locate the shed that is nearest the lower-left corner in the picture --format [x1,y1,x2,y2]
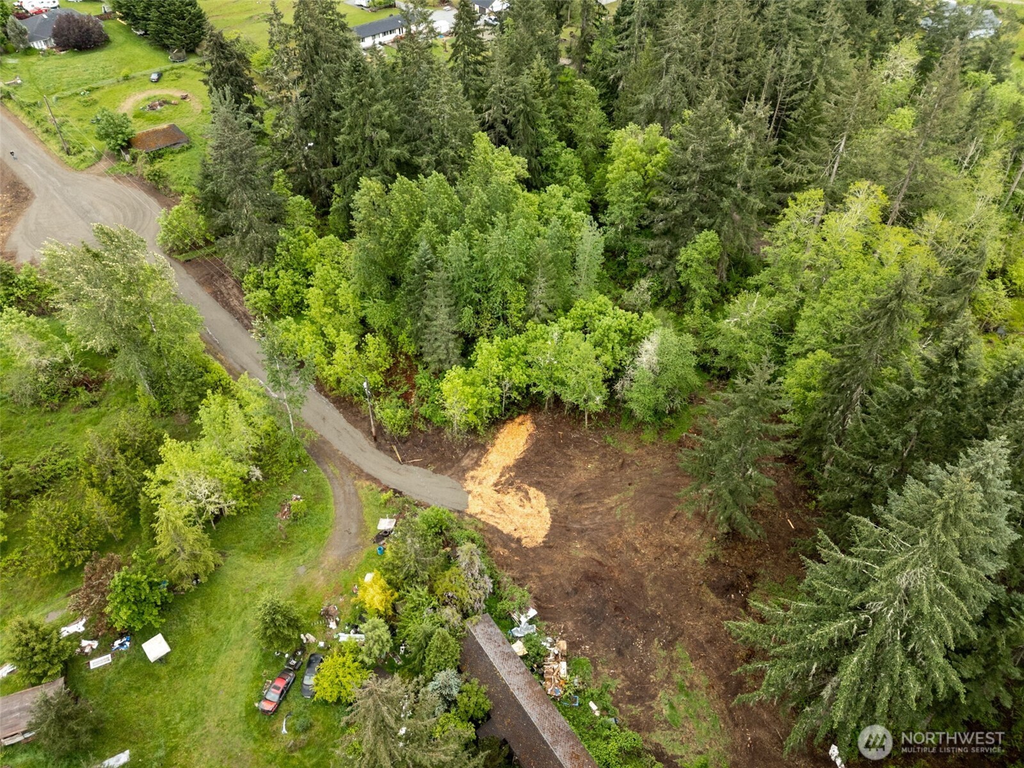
[0,677,71,751]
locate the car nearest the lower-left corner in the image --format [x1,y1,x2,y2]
[257,663,296,715]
